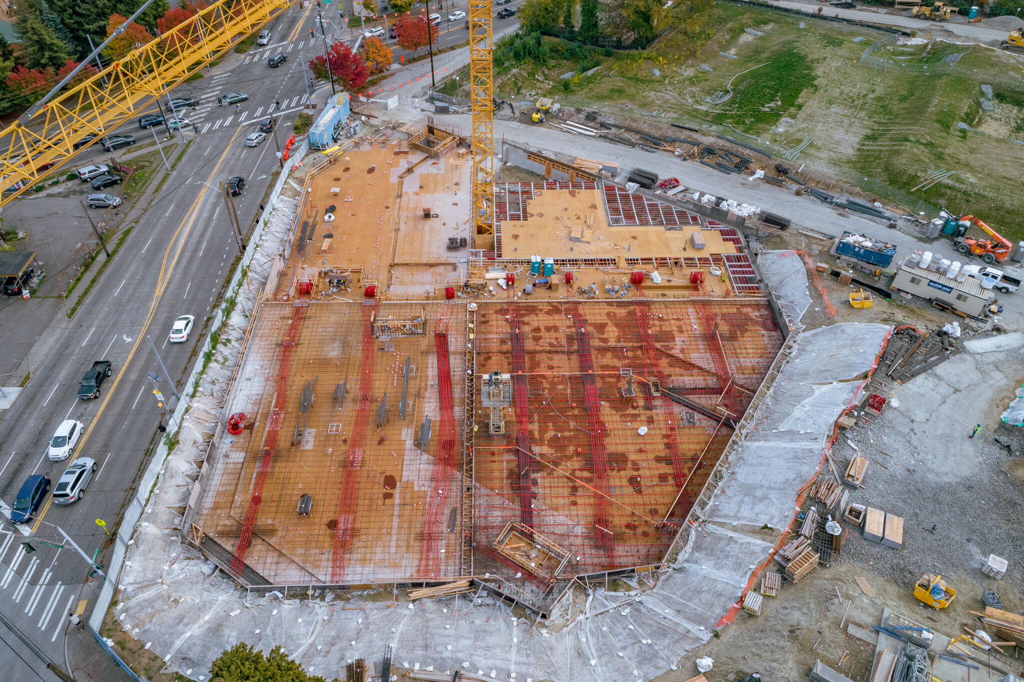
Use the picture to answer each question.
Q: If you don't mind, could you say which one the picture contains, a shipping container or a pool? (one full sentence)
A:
The one in the frame is a shipping container.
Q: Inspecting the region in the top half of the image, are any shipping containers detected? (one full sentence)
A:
Yes, a shipping container appears in the top half of the image.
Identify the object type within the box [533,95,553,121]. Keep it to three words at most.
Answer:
vehicle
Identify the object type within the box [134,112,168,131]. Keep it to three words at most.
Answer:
car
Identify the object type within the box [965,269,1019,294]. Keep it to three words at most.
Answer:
truck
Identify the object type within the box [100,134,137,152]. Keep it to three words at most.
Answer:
car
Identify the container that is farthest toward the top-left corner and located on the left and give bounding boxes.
[306,92,361,148]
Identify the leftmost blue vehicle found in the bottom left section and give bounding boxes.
[12,477,50,523]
